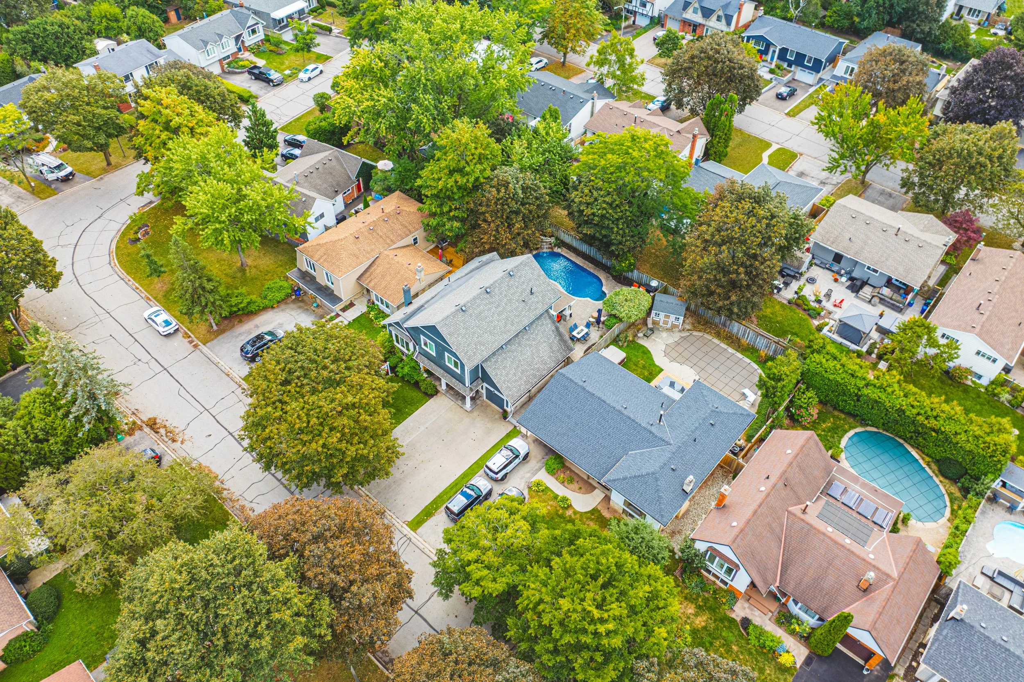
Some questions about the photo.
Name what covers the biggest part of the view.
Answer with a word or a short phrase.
trees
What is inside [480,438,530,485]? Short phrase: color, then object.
white car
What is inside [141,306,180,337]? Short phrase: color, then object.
white car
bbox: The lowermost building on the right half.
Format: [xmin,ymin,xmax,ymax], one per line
[911,580,1024,682]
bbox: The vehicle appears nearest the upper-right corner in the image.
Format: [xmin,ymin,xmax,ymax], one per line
[776,85,800,99]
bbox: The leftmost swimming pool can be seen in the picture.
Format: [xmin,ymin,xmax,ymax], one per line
[529,250,604,299]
